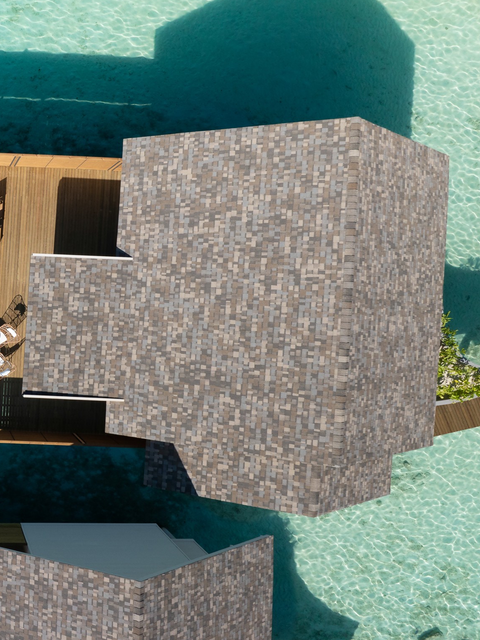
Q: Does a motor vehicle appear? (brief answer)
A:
No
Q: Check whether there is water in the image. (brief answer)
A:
Yes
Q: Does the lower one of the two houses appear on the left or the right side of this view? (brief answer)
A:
left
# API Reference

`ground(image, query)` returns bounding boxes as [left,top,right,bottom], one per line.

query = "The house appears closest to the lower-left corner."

[0,523,269,640]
